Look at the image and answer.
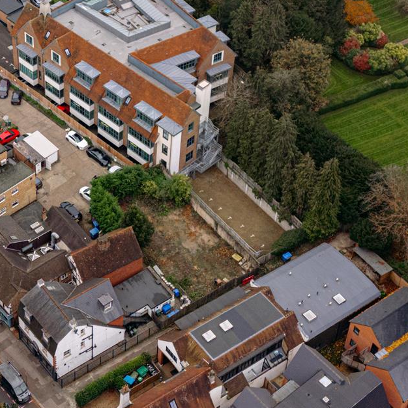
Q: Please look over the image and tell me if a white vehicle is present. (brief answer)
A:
Yes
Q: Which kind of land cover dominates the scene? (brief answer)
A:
buildings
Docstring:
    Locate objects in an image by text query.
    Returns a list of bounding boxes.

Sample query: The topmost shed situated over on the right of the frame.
[346,238,396,285]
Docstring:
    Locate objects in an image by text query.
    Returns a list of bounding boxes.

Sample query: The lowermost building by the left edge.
[14,268,124,380]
